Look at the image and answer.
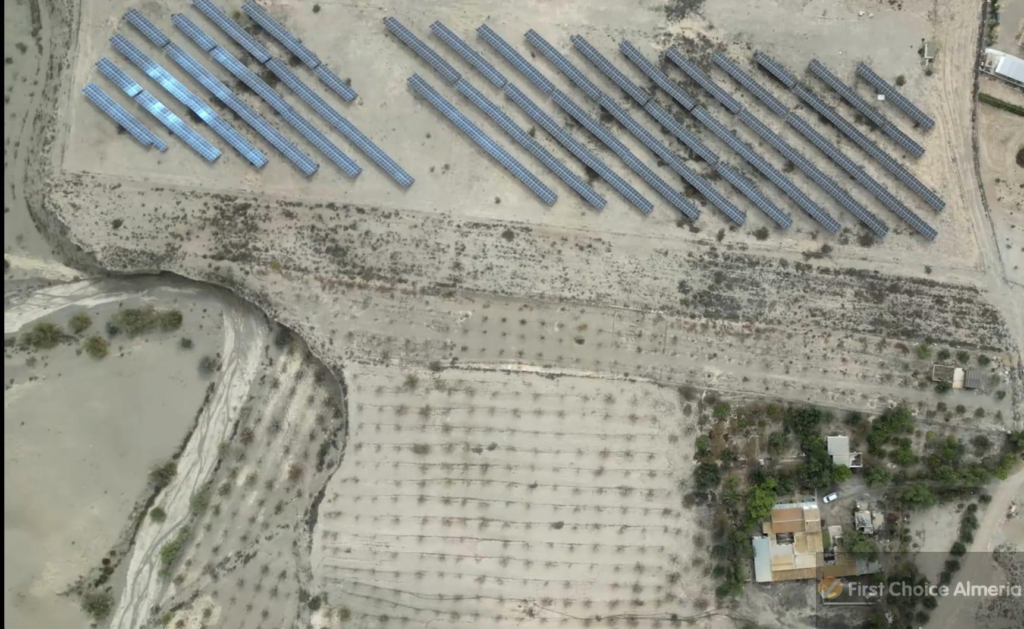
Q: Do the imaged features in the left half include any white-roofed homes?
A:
No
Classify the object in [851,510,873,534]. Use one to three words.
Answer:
shed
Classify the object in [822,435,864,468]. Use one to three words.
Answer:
house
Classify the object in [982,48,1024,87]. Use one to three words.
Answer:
barn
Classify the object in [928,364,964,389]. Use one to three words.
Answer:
shed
